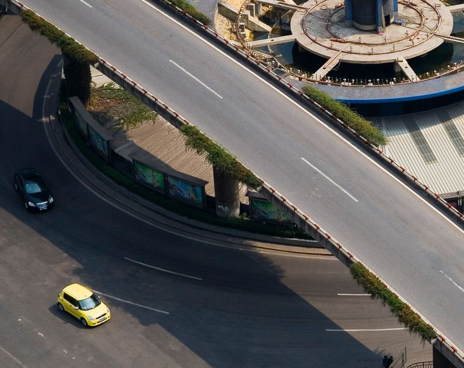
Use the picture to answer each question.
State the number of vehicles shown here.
2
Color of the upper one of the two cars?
black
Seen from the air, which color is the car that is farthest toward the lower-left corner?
yellow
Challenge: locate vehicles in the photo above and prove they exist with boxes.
[12,167,54,214]
[55,280,108,327]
